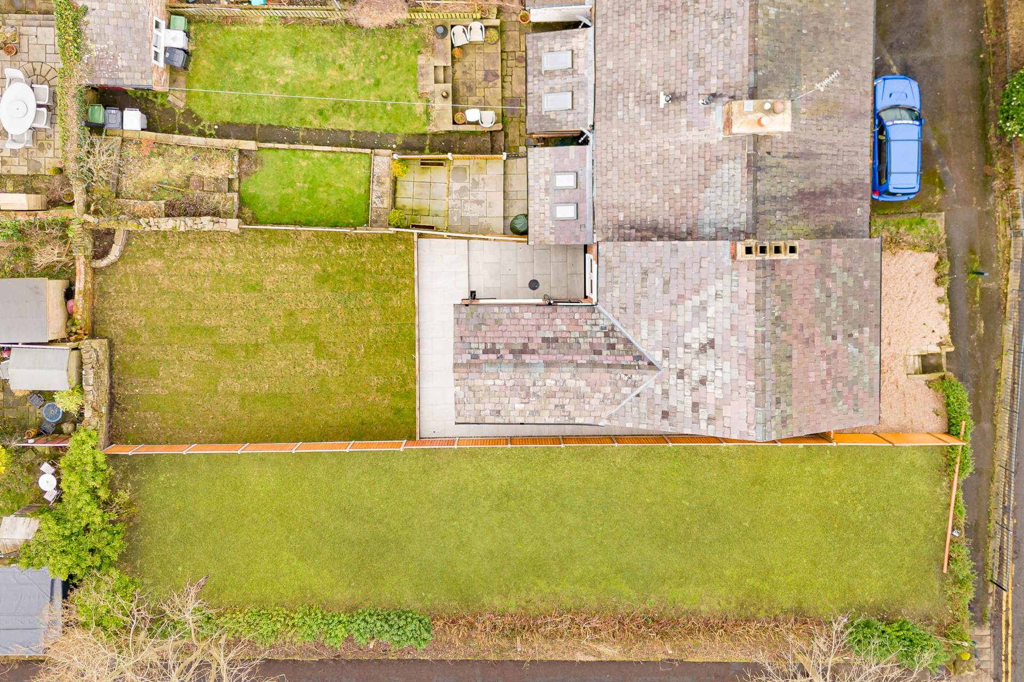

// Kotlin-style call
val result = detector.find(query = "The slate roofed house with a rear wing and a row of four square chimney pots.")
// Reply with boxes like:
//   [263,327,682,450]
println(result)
[451,238,884,442]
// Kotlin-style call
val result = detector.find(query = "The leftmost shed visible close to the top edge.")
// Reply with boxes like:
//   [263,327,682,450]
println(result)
[76,0,171,92]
